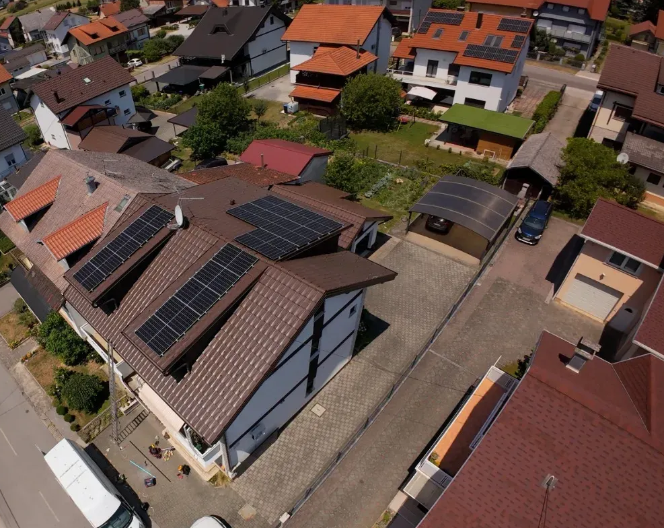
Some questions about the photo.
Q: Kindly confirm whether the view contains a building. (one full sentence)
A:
Yes, I can see a building in this picture.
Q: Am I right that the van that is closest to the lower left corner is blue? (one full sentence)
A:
No, the color of the van that is closest to the lower left corner is white.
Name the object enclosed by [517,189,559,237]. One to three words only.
car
